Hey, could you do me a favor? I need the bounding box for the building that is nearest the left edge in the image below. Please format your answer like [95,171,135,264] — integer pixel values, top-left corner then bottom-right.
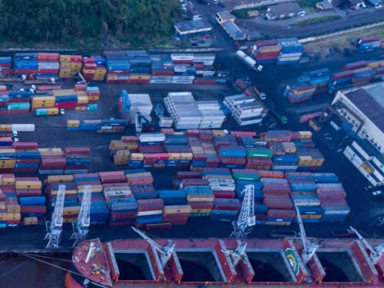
[175,19,215,39]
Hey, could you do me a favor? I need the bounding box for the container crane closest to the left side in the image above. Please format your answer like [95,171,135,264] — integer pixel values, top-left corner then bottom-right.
[42,185,63,249]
